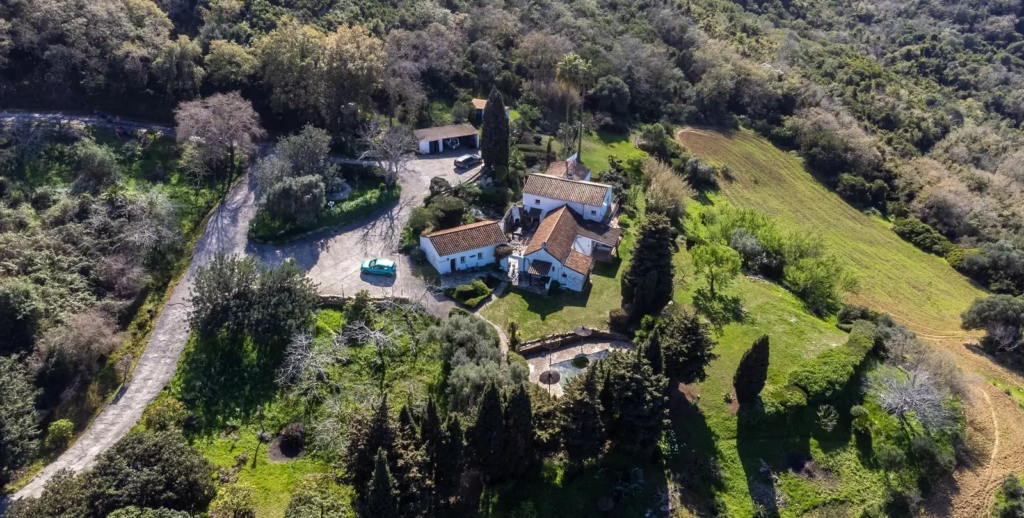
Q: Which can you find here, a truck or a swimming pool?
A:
swimming pool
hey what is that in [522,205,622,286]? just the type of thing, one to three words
house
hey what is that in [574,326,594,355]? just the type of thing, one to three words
umbrella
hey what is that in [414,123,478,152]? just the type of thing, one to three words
building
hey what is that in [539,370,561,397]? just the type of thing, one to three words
umbrella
